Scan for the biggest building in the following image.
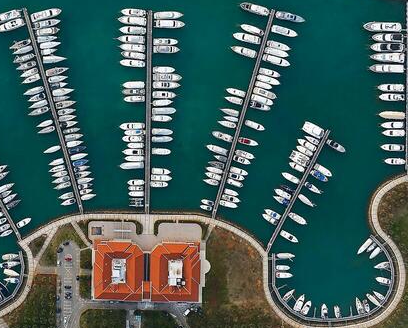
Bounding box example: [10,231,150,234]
[93,238,200,301]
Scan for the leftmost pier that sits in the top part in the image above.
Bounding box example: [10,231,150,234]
[22,8,84,214]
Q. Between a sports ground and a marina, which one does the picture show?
marina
